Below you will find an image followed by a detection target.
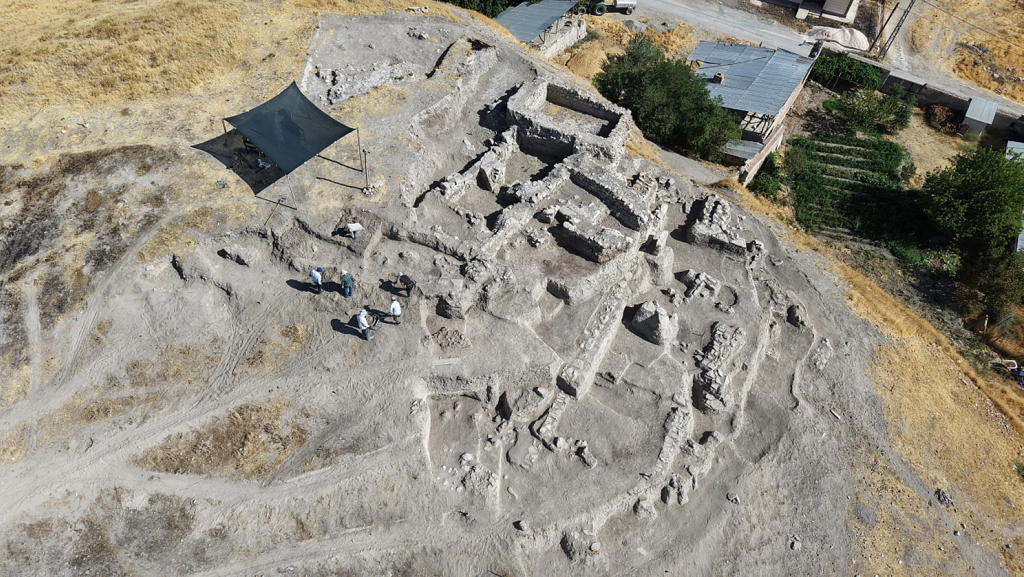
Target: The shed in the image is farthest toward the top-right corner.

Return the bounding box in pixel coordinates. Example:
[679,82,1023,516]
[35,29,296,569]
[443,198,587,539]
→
[955,98,998,139]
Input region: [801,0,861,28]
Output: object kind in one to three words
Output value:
house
